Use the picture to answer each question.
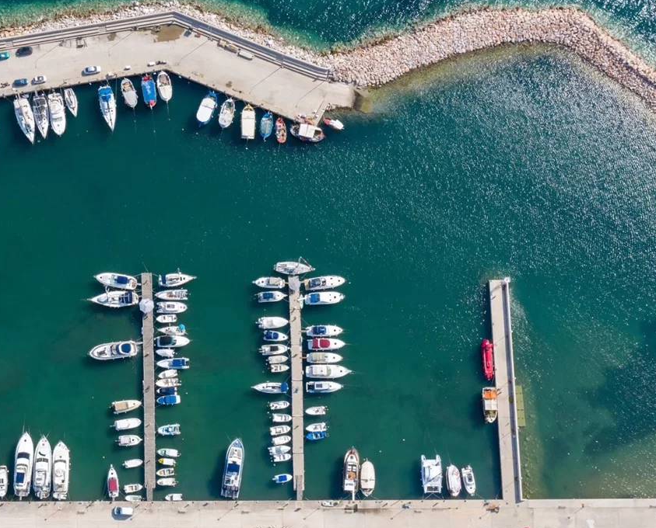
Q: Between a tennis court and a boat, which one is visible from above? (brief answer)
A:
boat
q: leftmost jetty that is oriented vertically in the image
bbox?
[141,273,157,502]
